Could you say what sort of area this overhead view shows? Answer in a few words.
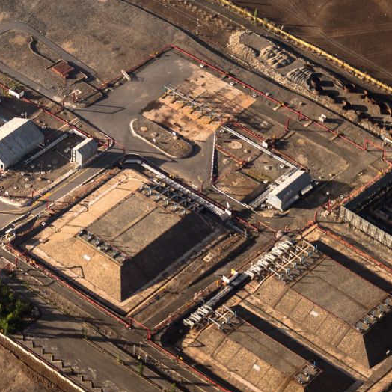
industrial area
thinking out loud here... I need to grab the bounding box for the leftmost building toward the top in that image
[0,118,46,171]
